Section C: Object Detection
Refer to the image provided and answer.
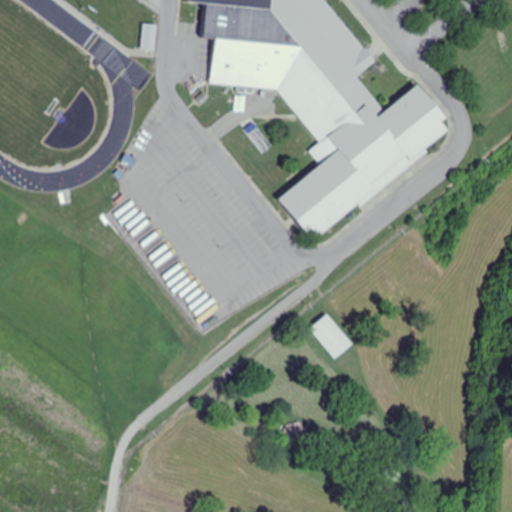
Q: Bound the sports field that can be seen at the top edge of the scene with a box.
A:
[0,0,108,168]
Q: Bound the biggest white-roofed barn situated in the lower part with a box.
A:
[310,314,352,360]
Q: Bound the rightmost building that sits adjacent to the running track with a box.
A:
[182,0,448,234]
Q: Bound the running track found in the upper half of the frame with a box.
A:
[0,0,151,192]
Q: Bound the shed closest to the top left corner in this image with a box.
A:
[139,24,157,52]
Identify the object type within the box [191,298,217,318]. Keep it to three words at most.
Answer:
bus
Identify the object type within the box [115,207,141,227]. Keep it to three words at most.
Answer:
bus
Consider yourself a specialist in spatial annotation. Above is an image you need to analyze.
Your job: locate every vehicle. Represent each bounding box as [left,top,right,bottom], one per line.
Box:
[136,228,163,250]
[115,207,141,227]
[164,268,190,288]
[132,141,144,152]
[140,129,152,140]
[136,134,148,146]
[194,304,220,324]
[184,292,210,312]
[191,298,217,318]
[110,198,136,220]
[122,211,148,231]
[180,284,206,306]
[146,241,172,262]
[150,248,176,269]
[160,260,186,281]
[176,278,202,299]
[126,217,152,238]
[206,316,217,324]
[168,274,194,295]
